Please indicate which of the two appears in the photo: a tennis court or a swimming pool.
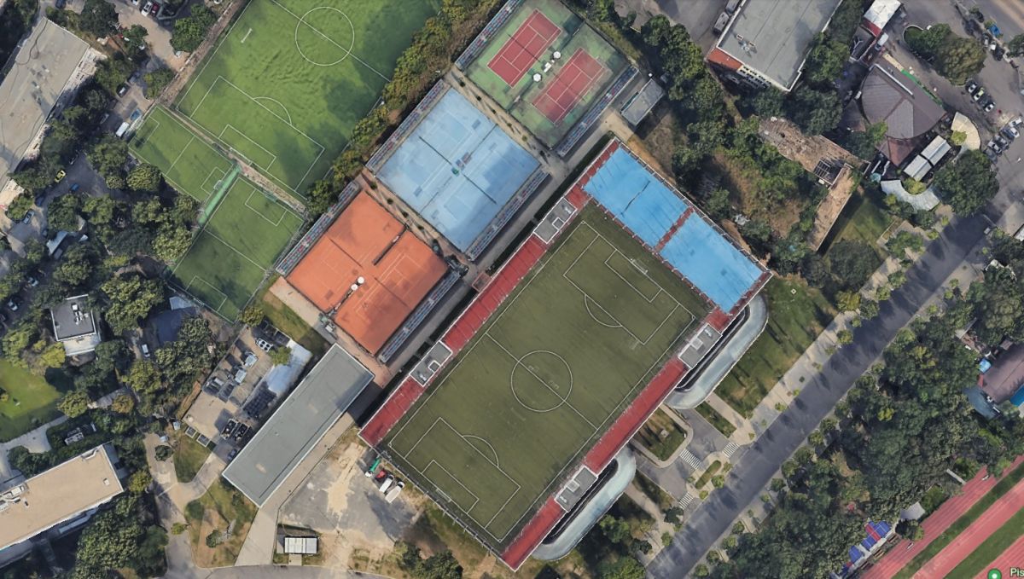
tennis court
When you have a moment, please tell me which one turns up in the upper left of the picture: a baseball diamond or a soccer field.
soccer field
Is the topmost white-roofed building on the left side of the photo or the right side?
right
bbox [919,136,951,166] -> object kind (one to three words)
building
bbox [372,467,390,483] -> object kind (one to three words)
vehicle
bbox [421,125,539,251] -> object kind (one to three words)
tennis court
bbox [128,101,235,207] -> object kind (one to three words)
soccer field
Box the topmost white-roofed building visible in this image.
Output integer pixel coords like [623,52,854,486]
[860,0,901,33]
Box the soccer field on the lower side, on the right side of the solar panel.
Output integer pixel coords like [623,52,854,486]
[379,201,715,552]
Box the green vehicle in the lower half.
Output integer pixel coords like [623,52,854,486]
[366,457,381,476]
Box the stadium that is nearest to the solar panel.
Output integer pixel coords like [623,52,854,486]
[359,140,773,571]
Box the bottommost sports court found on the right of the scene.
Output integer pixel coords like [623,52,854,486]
[661,211,762,312]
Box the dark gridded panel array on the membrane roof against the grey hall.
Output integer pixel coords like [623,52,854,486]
[244,383,276,417]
